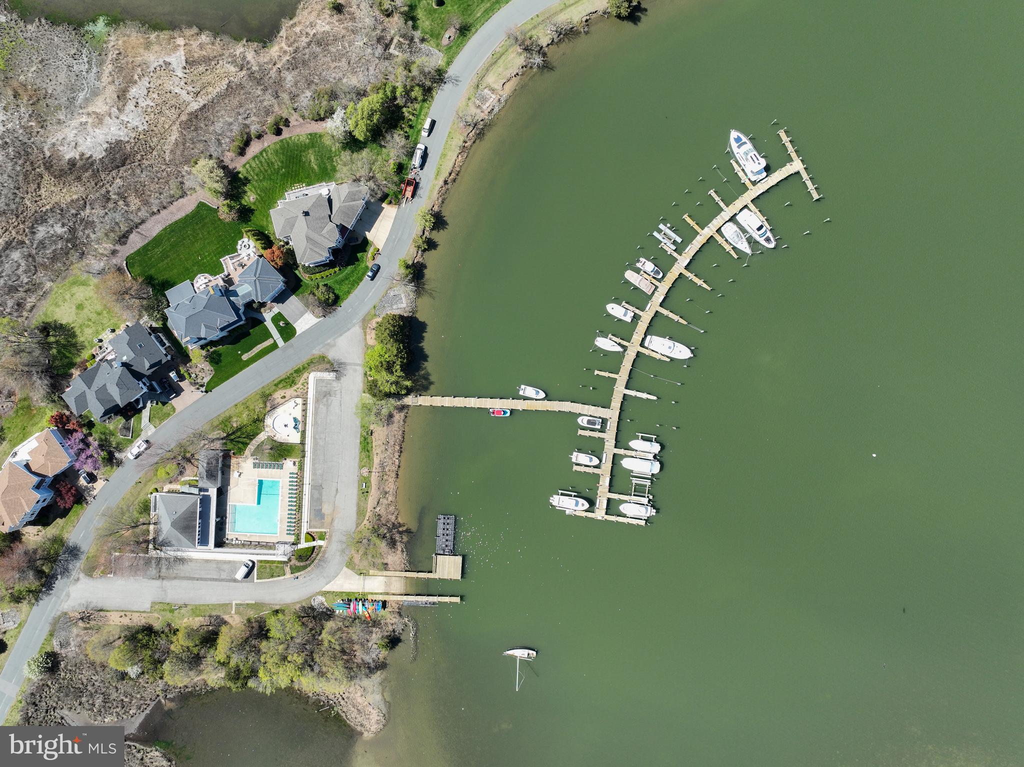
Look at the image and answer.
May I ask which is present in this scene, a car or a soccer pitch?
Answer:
car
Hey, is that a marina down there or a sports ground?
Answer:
marina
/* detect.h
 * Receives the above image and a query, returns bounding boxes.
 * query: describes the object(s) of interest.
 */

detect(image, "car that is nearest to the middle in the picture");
[364,264,381,281]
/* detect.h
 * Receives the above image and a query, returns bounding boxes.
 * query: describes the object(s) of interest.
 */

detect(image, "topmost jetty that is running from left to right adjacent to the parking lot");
[400,395,610,419]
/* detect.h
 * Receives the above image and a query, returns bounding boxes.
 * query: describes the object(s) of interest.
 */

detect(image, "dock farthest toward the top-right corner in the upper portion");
[777,130,819,200]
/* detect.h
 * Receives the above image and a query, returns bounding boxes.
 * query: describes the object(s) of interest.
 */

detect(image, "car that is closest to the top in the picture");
[421,116,435,137]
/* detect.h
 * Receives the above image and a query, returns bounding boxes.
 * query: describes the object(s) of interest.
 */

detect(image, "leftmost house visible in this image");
[0,428,78,533]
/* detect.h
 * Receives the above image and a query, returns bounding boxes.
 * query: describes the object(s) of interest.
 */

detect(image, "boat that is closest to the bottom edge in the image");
[505,649,536,689]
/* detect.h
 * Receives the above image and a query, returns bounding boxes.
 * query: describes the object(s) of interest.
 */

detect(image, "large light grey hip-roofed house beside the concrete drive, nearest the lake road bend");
[269,180,371,266]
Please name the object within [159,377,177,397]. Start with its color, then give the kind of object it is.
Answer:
black car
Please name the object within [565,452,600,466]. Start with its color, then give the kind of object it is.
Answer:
white boat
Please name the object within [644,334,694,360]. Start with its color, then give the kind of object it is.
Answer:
white boat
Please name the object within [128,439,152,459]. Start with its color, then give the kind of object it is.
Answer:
white vehicle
